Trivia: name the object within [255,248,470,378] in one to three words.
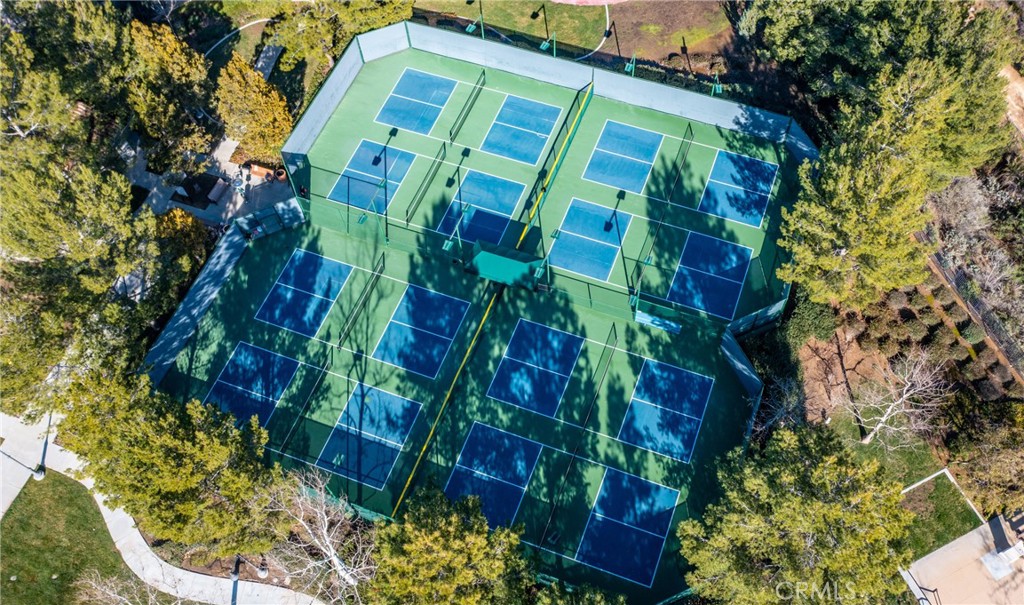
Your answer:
sports court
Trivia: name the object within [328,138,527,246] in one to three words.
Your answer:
sports court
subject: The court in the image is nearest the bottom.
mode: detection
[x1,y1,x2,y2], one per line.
[440,422,680,588]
